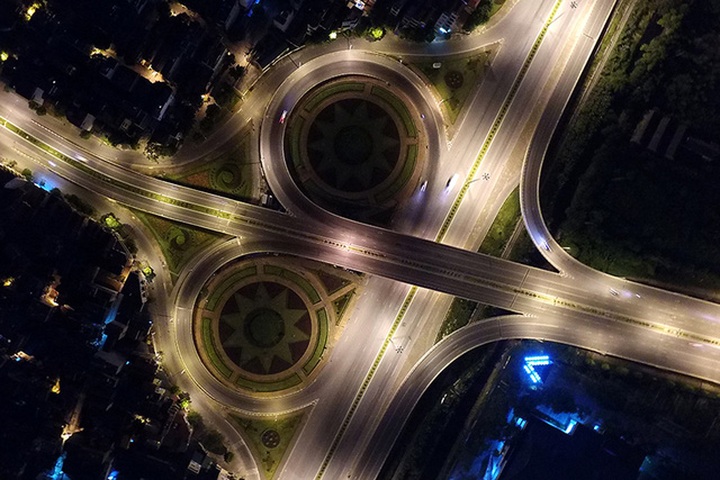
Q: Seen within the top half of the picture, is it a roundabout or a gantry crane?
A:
roundabout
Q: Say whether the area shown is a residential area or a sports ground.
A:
residential area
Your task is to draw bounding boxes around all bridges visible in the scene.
[0,103,720,363]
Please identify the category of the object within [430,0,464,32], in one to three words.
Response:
house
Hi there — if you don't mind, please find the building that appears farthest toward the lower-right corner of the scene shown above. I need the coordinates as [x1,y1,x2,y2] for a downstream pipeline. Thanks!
[485,408,650,480]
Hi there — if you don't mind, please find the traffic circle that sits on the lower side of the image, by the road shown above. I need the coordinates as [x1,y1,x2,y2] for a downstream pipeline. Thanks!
[193,258,365,396]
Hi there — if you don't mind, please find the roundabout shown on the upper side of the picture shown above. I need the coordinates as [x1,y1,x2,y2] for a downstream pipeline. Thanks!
[285,78,427,228]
